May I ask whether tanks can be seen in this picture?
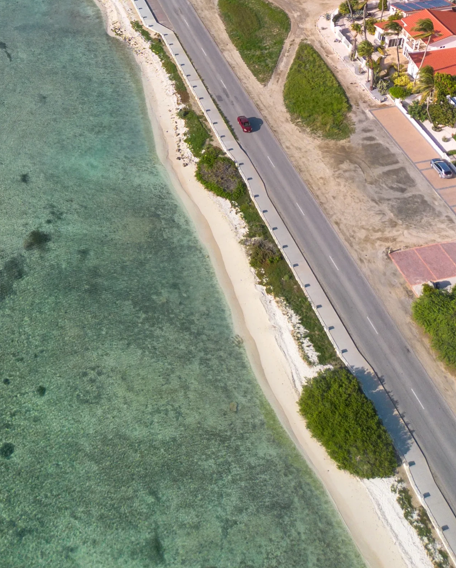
No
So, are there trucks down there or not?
No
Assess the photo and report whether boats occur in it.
No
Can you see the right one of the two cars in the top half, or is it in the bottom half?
top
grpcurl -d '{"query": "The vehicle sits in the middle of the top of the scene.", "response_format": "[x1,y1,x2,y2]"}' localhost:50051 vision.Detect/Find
[234,119,253,138]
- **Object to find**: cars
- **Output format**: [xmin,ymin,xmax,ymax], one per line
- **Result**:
[234,119,253,138]
[427,156,456,178]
